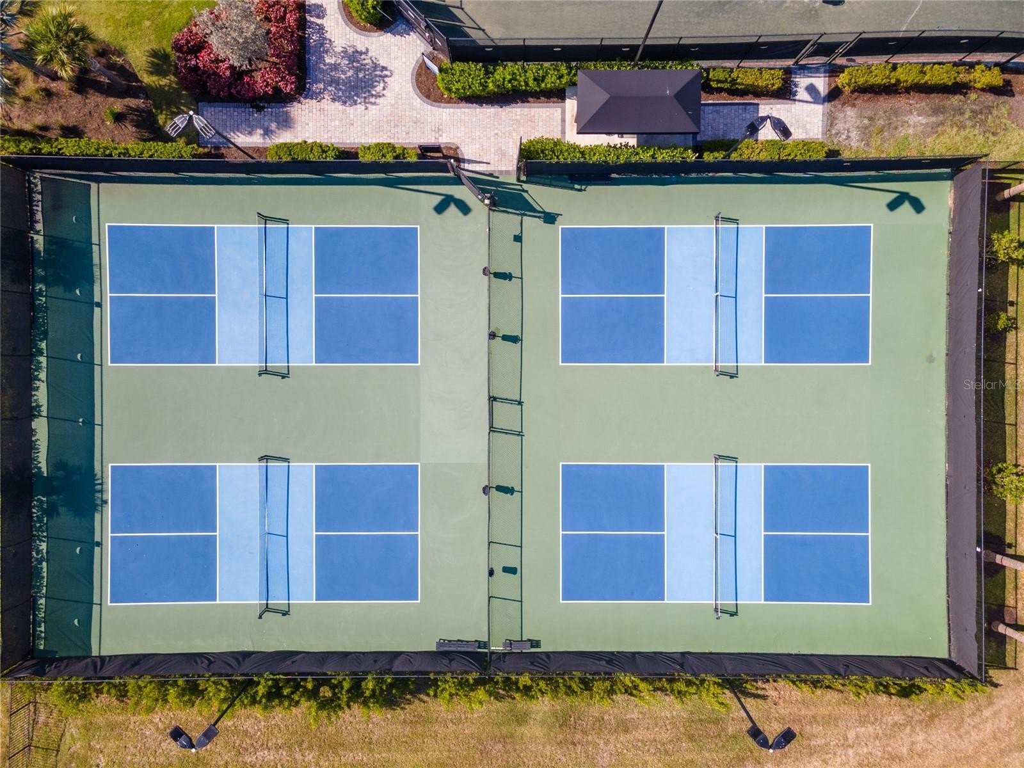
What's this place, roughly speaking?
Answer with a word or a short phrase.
sports ground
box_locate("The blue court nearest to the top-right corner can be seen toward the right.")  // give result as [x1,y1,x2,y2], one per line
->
[560,219,873,371]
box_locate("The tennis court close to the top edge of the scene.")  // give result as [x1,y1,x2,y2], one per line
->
[394,0,1024,68]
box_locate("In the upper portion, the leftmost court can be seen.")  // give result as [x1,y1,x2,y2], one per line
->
[106,219,420,366]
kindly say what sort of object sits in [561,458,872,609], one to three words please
sports court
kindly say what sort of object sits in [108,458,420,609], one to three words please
sports court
